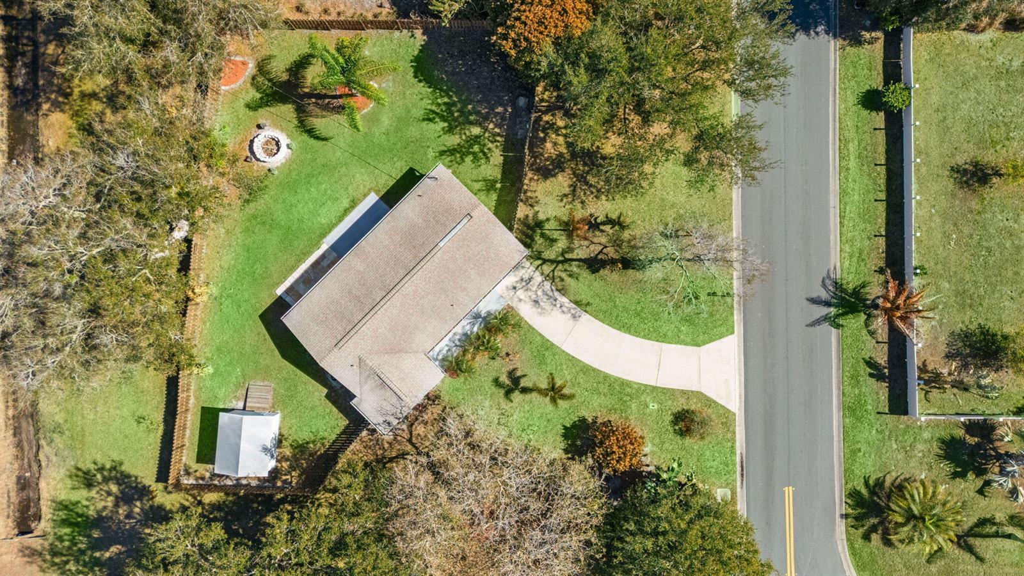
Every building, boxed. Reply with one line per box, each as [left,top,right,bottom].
[280,162,530,435]
[214,409,281,477]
